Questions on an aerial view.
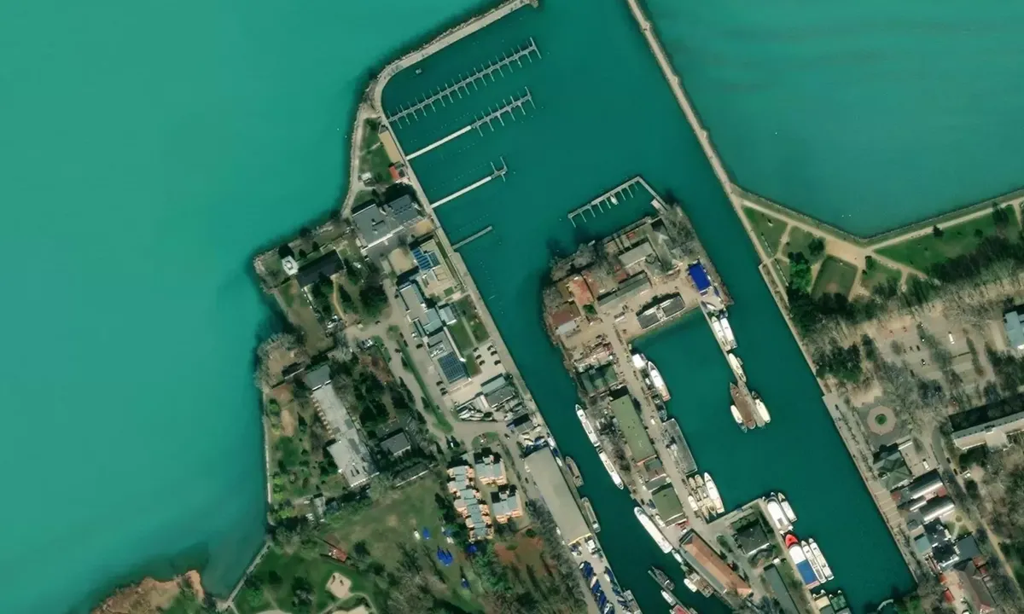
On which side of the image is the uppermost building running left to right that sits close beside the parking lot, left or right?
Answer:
right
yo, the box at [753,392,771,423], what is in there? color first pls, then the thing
white boat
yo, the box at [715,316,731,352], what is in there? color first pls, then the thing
white ship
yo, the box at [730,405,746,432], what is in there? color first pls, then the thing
white boat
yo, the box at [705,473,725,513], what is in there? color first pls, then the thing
white ship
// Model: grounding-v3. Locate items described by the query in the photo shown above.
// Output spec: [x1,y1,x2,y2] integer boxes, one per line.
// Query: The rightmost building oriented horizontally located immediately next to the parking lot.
[952,412,1024,453]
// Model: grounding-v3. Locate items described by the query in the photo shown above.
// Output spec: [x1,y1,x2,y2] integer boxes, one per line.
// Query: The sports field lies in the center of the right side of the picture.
[812,255,858,300]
